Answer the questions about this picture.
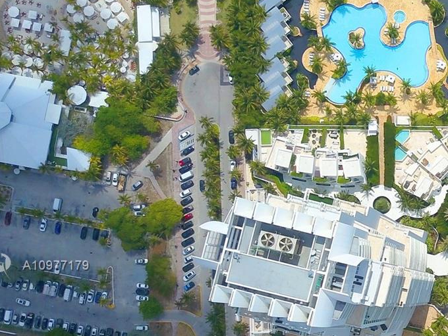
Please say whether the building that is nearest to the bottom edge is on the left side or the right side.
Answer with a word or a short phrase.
right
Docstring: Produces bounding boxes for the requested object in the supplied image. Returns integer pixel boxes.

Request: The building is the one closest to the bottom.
[193,199,435,336]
